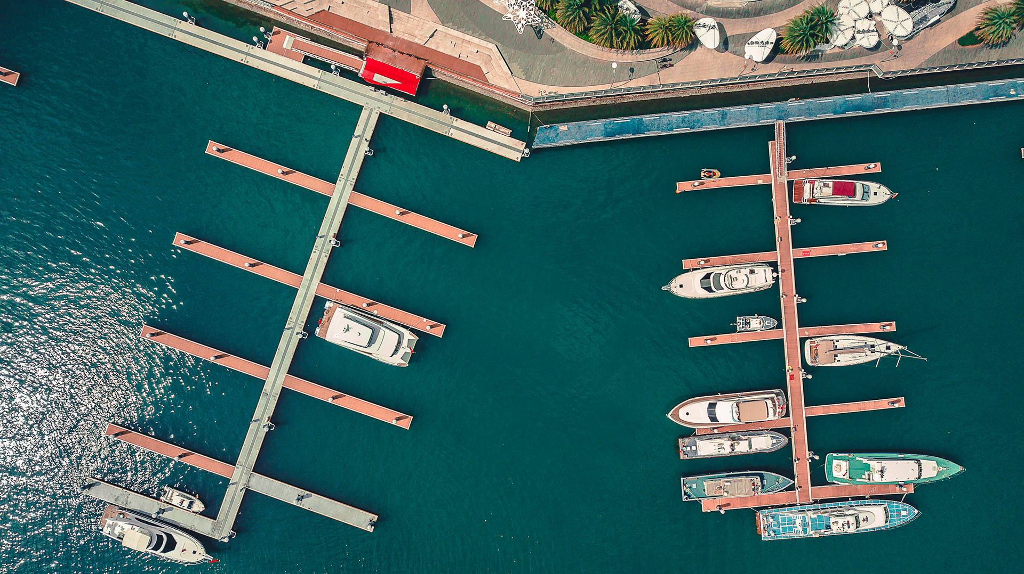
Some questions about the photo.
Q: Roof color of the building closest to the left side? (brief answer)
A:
red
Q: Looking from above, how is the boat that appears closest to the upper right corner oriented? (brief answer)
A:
horizontally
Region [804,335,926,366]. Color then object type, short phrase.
white boat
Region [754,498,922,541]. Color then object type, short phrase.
white ship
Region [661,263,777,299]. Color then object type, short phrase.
white boat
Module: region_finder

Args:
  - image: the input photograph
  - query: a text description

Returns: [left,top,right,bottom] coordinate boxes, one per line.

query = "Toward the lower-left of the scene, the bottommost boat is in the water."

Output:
[99,505,219,567]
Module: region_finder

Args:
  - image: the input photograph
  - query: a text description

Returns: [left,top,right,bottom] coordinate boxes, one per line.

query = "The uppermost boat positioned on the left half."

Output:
[315,301,418,366]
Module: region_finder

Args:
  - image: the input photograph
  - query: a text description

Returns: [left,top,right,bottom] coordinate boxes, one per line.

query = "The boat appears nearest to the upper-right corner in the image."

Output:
[792,178,898,207]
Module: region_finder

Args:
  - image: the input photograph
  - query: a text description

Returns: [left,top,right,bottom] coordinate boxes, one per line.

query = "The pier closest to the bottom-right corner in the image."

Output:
[811,483,914,499]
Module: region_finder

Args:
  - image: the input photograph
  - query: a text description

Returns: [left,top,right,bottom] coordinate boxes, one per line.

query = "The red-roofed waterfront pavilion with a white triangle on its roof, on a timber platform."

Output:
[356,38,425,100]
